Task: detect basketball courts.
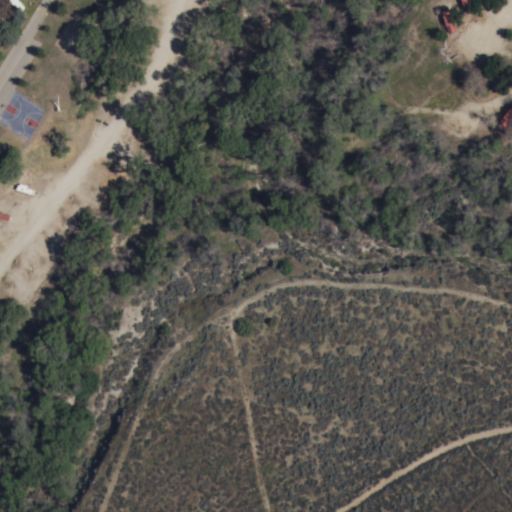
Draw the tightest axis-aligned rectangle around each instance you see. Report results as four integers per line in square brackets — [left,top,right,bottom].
[0,92,45,136]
